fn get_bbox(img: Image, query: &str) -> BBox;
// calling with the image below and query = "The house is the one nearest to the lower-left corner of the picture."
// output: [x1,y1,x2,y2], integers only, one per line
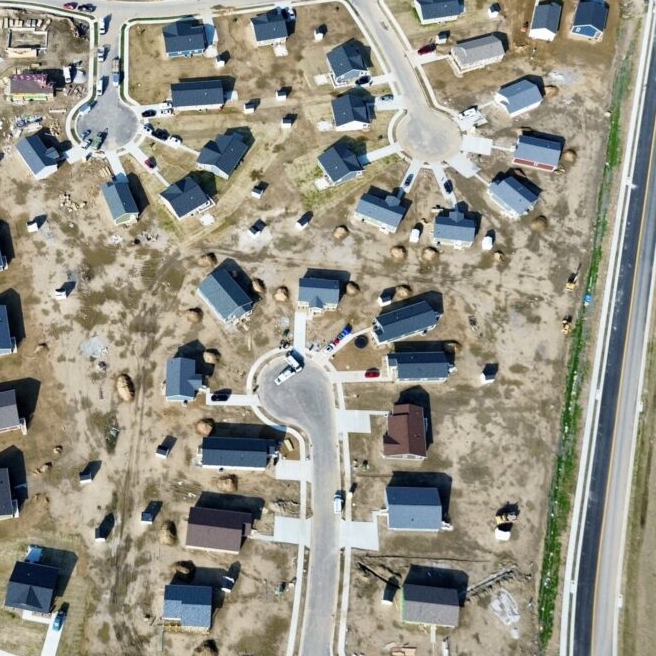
[5,551,60,620]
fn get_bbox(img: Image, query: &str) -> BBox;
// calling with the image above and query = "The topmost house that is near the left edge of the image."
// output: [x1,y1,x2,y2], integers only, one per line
[8,68,52,99]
